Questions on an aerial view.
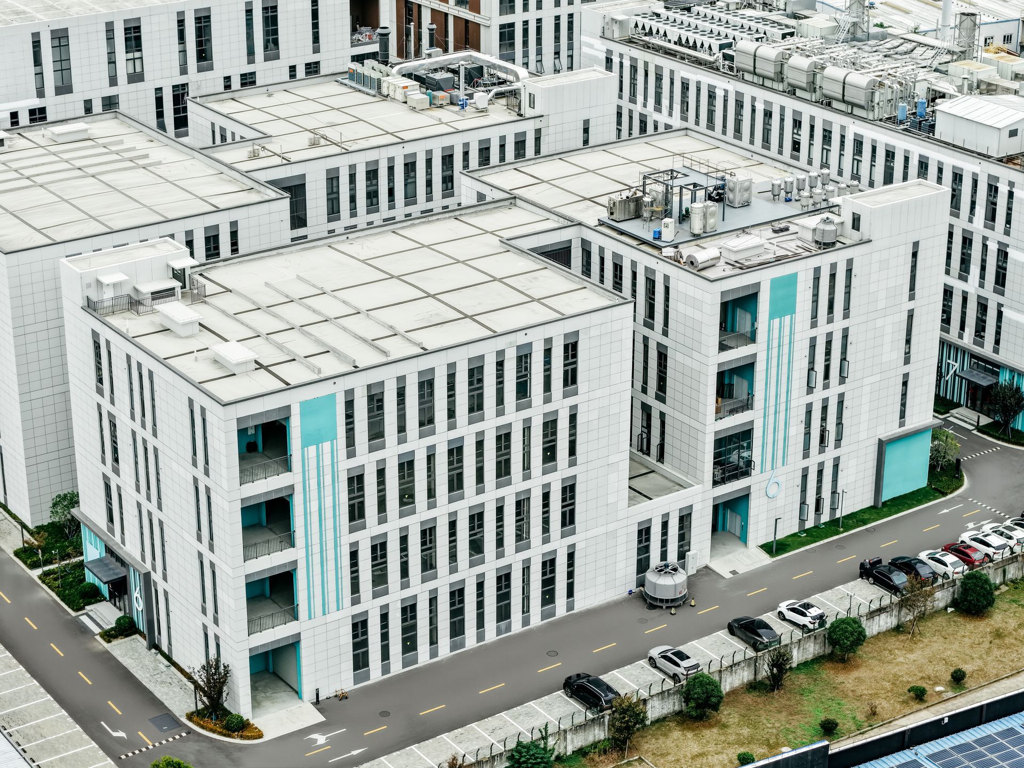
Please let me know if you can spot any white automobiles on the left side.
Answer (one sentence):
No, I can find no white automobile on the left side.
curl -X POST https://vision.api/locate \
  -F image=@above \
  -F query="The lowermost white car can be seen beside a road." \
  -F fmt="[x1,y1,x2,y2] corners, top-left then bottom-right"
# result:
[646,645,705,683]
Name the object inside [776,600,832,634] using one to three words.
car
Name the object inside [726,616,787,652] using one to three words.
car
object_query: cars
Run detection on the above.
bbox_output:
[776,600,832,634]
[978,523,1024,552]
[1016,510,1024,518]
[726,616,787,652]
[890,556,949,588]
[865,555,926,599]
[937,541,995,569]
[958,530,1019,561]
[999,517,1024,530]
[646,645,705,683]
[915,548,974,579]
[565,674,626,715]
